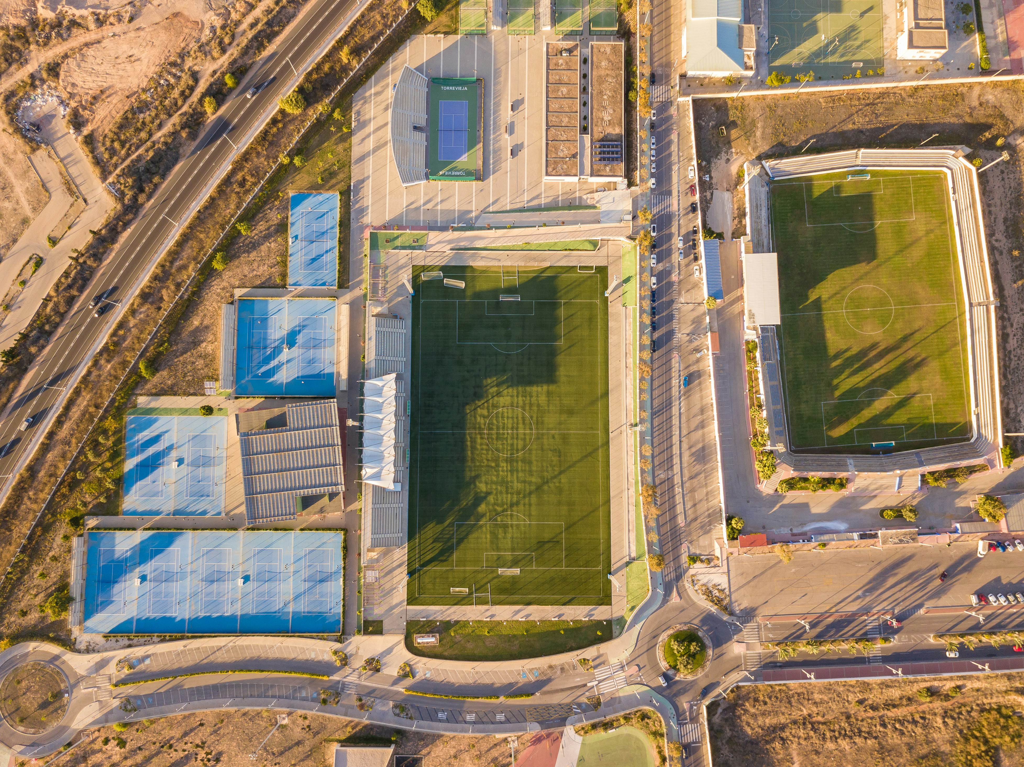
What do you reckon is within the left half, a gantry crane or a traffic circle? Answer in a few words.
traffic circle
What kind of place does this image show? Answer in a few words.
sports ground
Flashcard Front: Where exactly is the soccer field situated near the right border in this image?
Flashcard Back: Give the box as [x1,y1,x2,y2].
[770,169,973,454]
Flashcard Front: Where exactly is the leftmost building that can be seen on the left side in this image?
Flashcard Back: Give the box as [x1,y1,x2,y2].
[236,399,349,526]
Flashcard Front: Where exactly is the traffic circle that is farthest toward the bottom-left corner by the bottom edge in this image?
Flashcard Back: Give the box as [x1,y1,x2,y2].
[0,651,86,748]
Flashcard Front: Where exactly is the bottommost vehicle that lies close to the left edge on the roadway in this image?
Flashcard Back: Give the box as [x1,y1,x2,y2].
[18,418,31,431]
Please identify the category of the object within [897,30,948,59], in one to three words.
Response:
building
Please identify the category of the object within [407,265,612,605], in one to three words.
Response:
soccer field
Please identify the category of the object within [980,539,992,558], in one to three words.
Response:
vehicle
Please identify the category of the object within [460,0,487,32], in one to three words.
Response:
sports court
